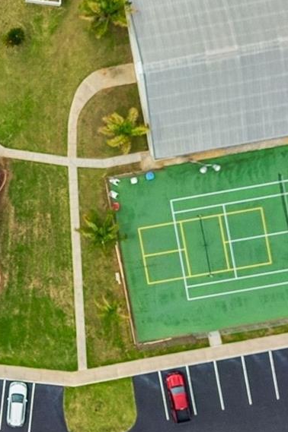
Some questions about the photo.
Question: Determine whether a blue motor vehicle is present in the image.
No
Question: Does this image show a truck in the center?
No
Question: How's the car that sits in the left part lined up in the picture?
up and down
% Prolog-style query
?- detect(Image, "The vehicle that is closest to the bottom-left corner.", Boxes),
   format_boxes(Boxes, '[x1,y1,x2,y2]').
[7,380,29,428]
